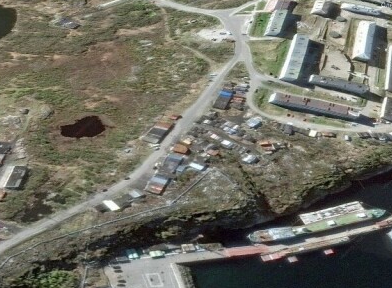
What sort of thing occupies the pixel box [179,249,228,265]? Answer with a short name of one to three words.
pier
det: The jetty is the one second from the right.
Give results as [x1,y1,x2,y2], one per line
[226,244,268,258]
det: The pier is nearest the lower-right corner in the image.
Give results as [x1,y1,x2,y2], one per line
[267,219,392,254]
